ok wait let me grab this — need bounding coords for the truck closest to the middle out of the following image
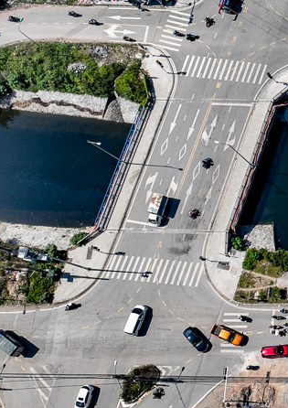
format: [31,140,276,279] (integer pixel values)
[147,191,168,227]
